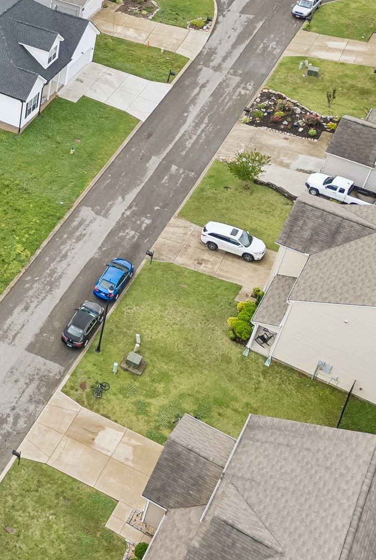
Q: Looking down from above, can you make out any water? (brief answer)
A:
No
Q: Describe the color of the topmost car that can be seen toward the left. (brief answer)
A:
blue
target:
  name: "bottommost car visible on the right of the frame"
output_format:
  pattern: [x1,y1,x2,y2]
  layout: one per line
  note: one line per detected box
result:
[201,223,269,265]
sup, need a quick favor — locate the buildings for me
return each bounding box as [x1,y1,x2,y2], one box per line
[0,0,101,136]
[234,198,376,406]
[139,411,376,560]
[323,107,376,186]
